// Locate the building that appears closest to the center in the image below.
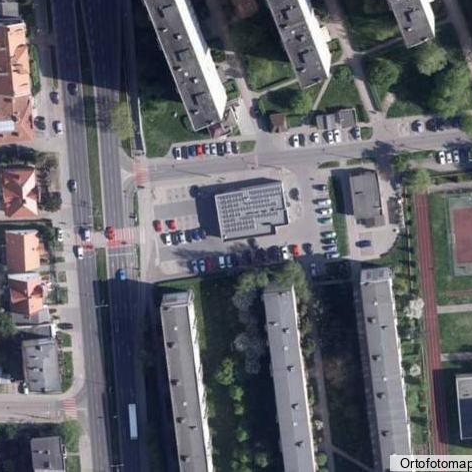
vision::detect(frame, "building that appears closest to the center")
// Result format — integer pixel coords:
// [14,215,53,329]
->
[215,178,289,241]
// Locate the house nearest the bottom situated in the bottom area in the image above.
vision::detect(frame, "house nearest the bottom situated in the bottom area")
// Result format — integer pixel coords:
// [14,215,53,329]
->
[31,430,65,472]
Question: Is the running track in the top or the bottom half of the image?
bottom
